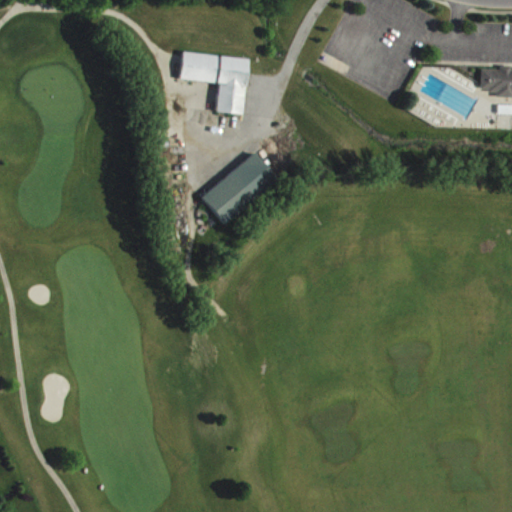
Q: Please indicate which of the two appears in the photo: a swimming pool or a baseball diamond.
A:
swimming pool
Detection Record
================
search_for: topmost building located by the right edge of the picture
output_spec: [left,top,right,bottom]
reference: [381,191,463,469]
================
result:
[481,68,512,96]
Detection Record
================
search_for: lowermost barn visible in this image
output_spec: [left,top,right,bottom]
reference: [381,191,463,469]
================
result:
[204,154,280,224]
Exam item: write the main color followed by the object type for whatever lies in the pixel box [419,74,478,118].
blue swimming pool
